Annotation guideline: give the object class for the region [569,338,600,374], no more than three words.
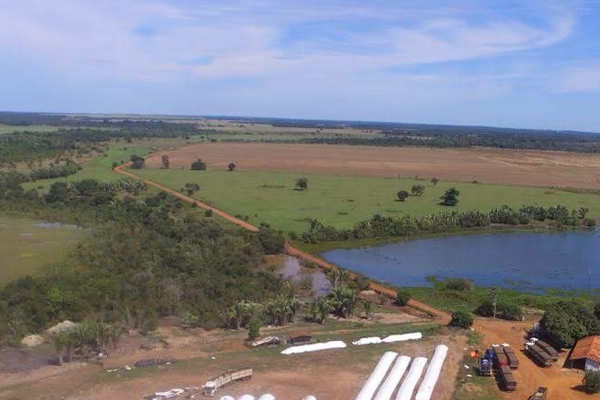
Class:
house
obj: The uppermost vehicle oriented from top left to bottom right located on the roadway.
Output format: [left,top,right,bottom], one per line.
[531,325,549,345]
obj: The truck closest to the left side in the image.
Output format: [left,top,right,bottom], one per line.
[204,370,256,397]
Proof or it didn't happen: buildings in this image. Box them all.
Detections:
[569,338,600,374]
[287,335,313,345]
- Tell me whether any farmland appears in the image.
Yes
